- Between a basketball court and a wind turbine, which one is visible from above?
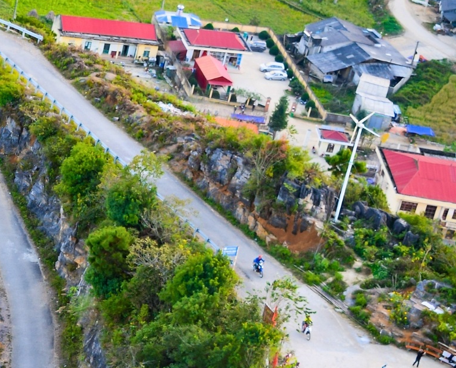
wind turbine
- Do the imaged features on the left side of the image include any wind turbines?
No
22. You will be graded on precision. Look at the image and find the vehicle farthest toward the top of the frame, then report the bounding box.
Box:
[249,38,272,51]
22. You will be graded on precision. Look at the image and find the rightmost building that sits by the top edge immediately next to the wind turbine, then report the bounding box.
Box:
[302,18,411,91]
